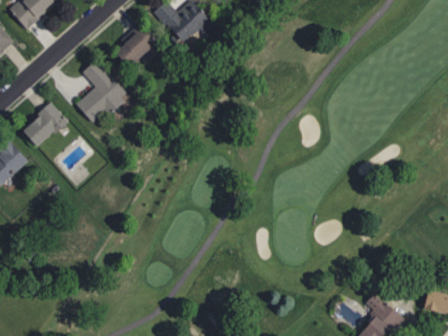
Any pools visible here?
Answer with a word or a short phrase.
Yes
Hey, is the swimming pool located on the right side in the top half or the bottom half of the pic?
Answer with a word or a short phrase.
bottom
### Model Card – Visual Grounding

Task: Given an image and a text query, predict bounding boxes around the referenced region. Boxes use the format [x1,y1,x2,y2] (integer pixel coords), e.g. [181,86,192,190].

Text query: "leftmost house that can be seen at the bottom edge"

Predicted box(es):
[359,293,404,336]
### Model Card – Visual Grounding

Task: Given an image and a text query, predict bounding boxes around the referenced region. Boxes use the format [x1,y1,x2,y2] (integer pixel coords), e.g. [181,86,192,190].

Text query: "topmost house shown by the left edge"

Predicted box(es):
[12,0,54,26]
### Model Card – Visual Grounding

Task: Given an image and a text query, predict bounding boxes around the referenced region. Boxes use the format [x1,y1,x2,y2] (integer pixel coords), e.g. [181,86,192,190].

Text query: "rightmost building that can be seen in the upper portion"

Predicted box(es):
[156,2,210,44]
